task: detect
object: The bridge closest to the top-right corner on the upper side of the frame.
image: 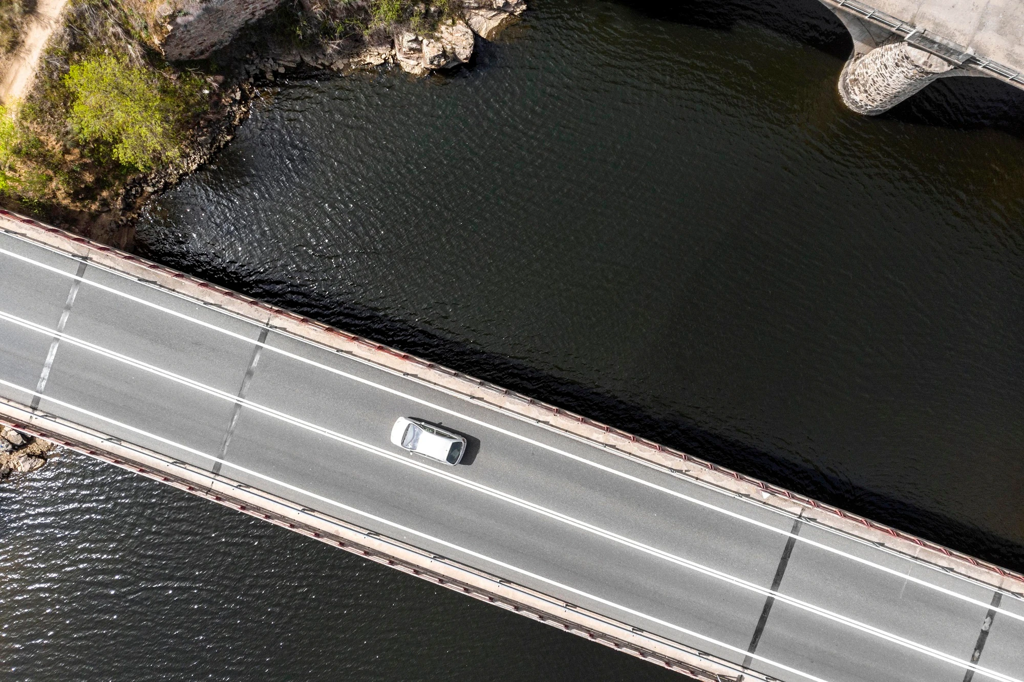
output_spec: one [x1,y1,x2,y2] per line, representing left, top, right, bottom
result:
[819,0,1024,117]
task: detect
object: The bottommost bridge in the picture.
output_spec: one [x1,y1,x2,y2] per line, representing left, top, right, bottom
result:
[0,206,1024,682]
